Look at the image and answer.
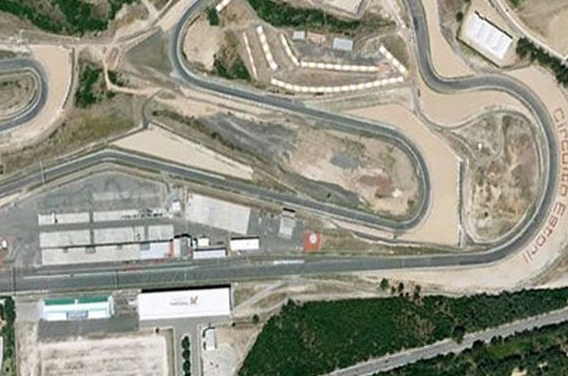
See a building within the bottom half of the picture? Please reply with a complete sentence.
Yes, I can see a building within the bottom half of the picture.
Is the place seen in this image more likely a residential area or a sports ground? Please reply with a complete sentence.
What you see here is a sports ground.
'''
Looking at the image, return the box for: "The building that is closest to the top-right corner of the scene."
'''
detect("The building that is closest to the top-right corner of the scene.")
[464,15,513,58]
